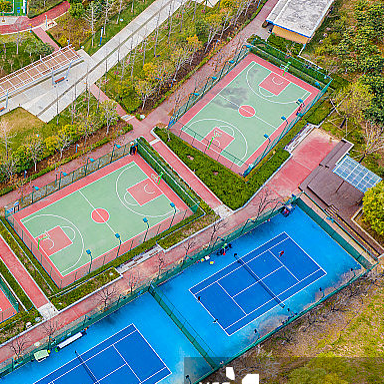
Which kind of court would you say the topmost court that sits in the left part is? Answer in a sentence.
It looks like the topmost court that sits in the left part is a basketball court.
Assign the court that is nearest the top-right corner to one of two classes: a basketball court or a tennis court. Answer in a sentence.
I'd say the court that is nearest the top-right corner is a basketball court.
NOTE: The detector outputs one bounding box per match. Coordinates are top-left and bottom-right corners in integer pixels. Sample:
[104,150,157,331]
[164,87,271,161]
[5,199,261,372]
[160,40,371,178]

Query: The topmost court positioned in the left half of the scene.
[7,151,193,289]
